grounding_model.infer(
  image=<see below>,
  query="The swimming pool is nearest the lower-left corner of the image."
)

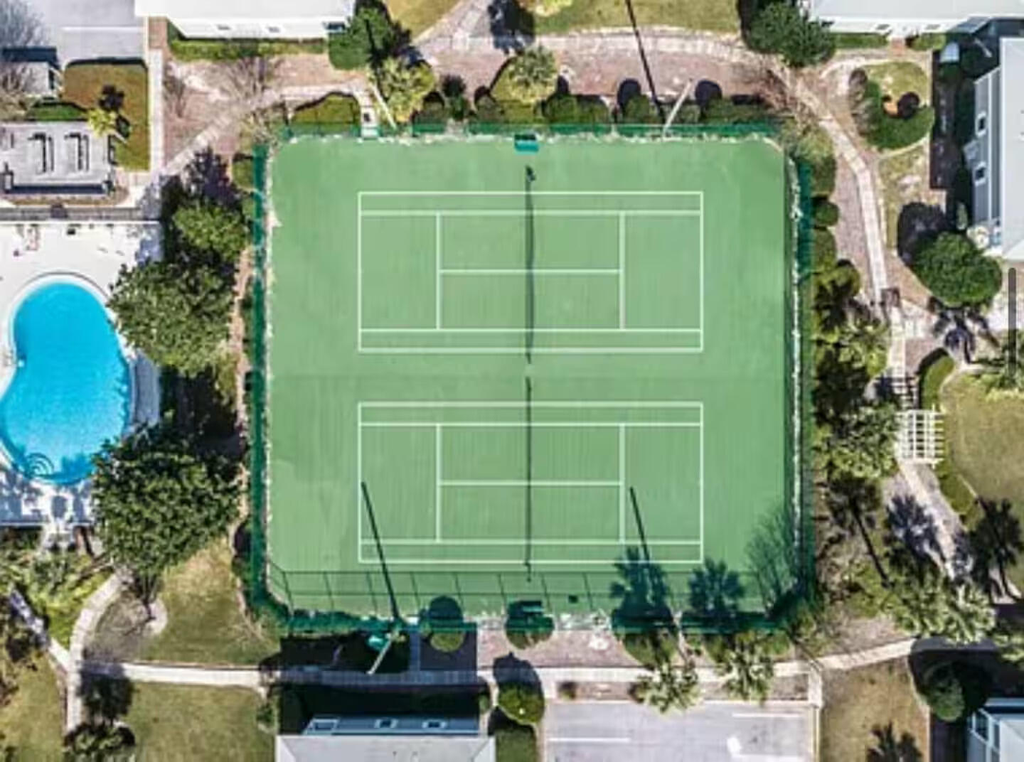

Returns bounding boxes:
[0,276,138,493]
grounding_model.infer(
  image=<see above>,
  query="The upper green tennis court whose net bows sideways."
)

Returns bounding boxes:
[269,138,795,377]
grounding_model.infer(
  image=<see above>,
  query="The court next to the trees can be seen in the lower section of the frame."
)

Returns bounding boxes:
[269,377,796,615]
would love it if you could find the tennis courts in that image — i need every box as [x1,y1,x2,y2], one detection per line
[269,377,796,615]
[269,138,795,377]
